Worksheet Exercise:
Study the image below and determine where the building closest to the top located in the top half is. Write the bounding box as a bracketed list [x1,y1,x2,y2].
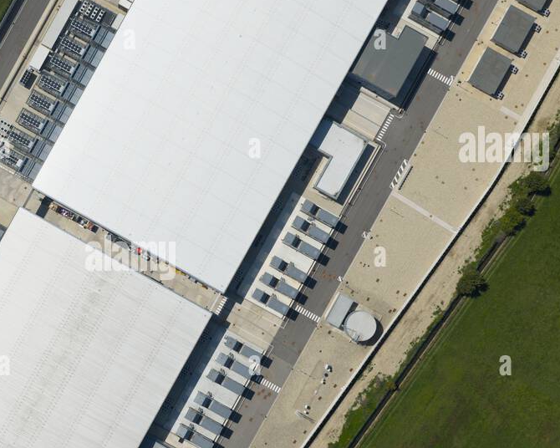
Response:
[42,0,80,49]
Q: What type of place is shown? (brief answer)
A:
industrial area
